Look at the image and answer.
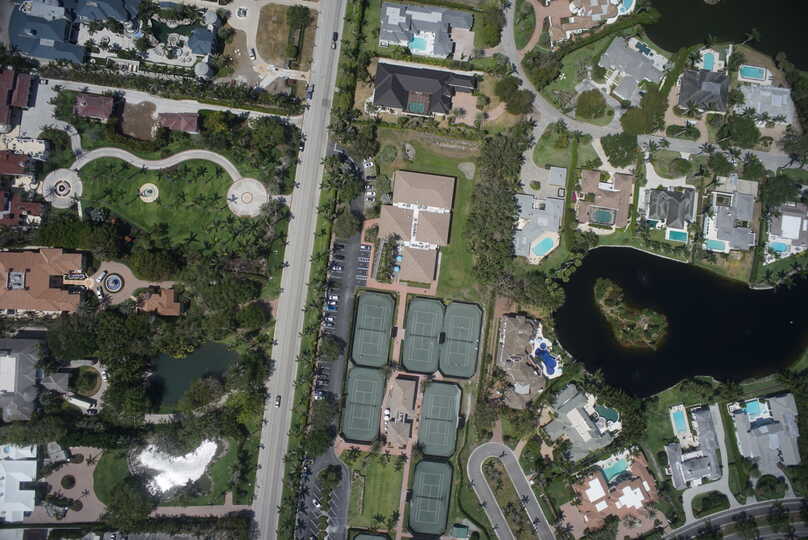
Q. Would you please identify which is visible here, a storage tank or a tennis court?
tennis court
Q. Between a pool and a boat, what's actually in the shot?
pool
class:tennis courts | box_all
[351,292,396,369]
[410,459,454,538]
[402,297,446,374]
[440,300,484,378]
[341,366,386,444]
[418,381,462,459]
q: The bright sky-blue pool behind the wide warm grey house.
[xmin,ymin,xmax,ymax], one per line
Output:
[731,399,768,422]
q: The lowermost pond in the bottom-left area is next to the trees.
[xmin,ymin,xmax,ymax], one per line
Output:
[130,436,230,500]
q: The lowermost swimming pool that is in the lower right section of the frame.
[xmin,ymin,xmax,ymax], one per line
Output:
[600,453,635,482]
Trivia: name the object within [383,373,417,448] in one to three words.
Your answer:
building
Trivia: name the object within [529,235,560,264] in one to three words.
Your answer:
swimming pool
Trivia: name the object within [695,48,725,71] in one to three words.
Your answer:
swimming pool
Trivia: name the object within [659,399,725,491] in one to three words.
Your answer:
house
